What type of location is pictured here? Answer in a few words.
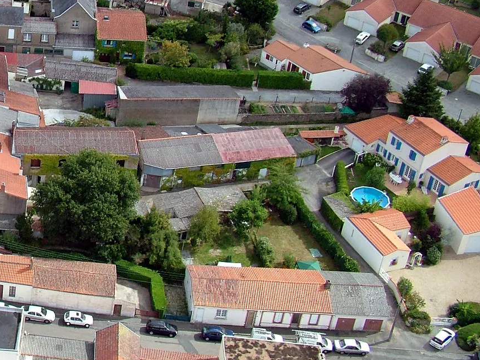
residential area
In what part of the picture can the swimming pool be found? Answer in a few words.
right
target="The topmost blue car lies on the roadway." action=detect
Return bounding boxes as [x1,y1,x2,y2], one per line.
[302,19,321,33]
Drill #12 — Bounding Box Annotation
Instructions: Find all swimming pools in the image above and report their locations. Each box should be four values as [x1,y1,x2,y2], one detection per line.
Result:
[349,184,397,210]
